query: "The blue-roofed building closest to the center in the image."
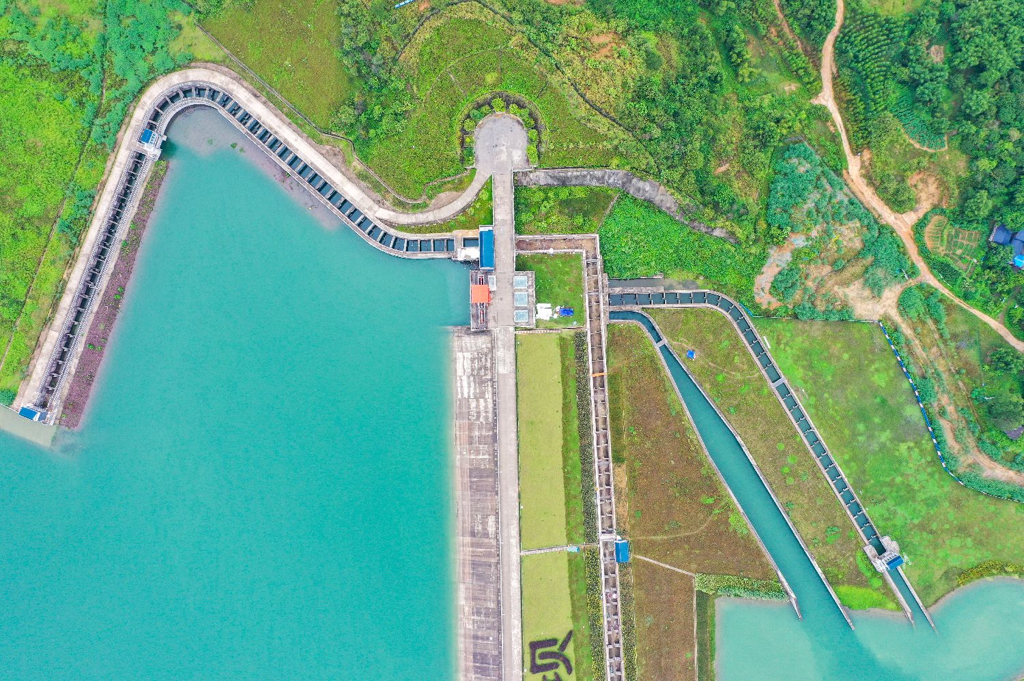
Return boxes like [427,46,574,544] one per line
[479,225,494,272]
